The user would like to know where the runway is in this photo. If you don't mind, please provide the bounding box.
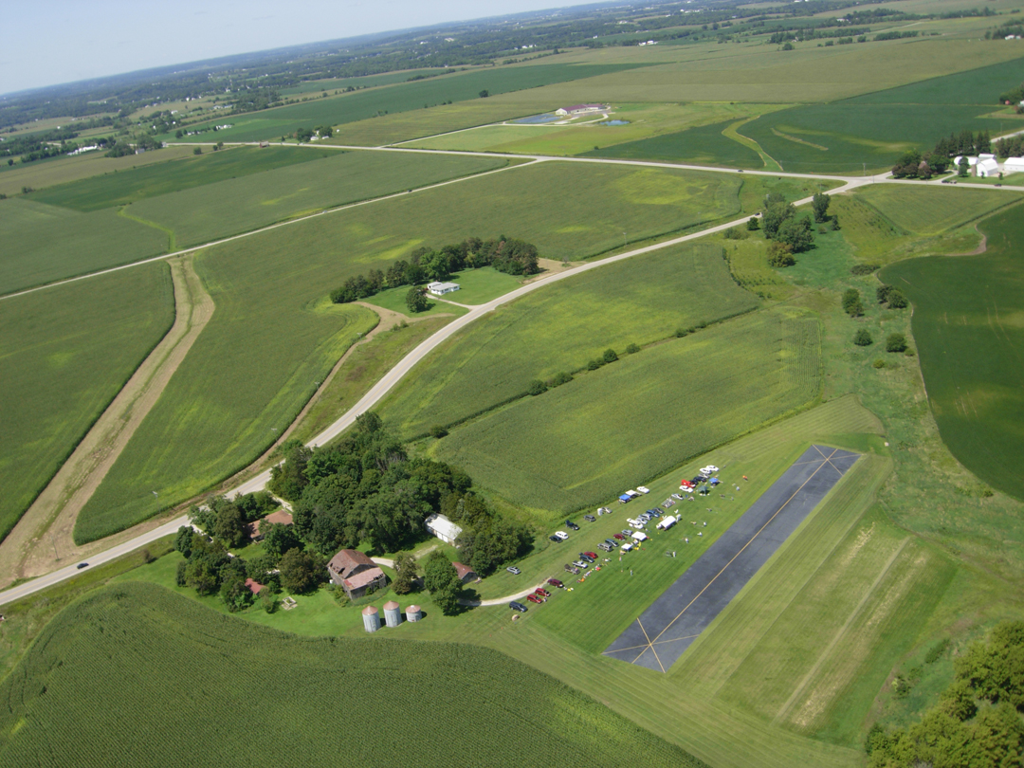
[605,446,862,674]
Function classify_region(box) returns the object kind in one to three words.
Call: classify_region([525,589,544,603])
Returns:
car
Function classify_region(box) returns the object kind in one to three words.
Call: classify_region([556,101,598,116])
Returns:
building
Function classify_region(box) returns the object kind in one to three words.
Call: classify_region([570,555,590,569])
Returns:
vehicle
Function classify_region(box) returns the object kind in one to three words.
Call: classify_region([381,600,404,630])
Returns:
silo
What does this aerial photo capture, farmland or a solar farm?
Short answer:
farmland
